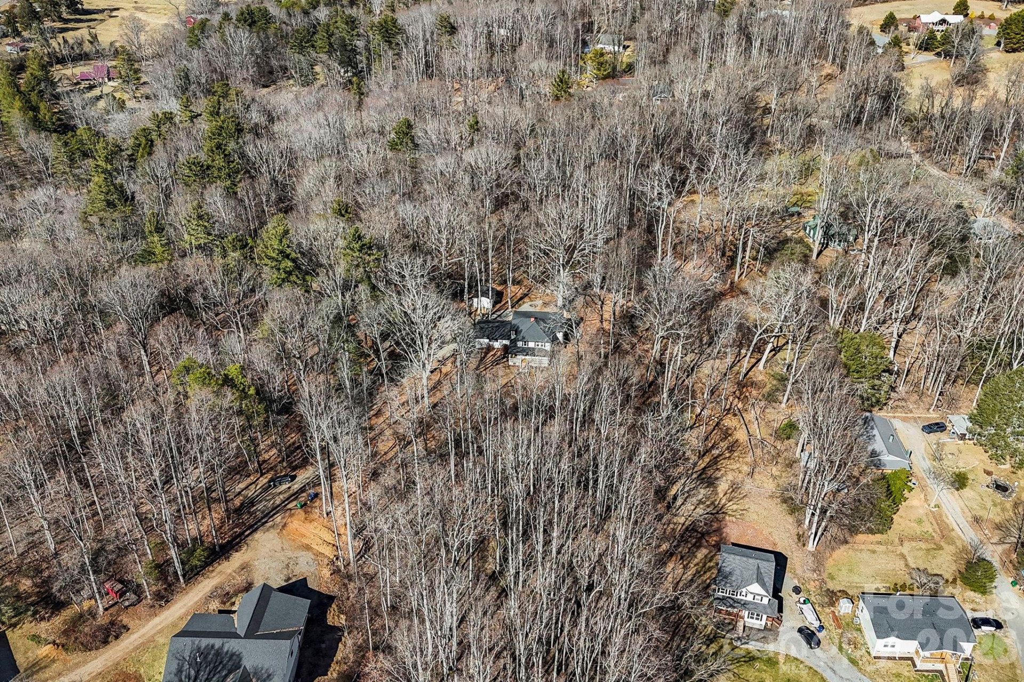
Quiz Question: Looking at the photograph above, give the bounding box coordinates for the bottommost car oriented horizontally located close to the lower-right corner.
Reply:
[971,616,1006,632]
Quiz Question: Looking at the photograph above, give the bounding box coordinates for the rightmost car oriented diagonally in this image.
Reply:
[796,623,826,650]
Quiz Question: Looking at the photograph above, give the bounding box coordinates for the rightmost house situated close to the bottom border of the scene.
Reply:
[858,593,976,682]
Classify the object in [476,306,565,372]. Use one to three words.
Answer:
house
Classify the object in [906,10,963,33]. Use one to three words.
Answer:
house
